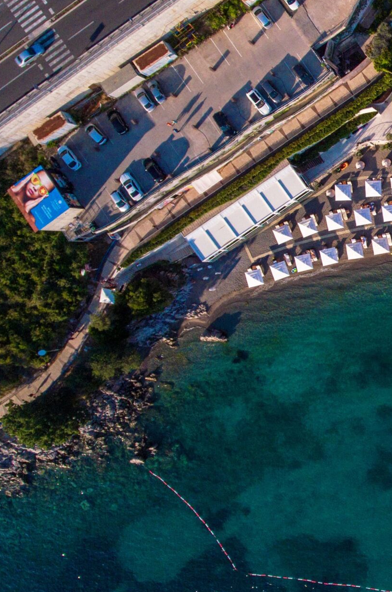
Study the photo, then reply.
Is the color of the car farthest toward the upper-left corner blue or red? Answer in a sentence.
In this view, the car farthest toward the upper-left corner is blue.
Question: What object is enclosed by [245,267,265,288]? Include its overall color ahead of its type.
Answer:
white umbrella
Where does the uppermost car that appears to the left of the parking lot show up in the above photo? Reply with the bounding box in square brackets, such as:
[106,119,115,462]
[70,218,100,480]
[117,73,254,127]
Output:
[14,42,43,66]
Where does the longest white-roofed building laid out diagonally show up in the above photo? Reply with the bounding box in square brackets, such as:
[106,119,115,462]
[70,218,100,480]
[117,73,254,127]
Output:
[183,165,318,269]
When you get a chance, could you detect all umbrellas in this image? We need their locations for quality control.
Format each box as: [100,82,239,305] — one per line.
[102,289,115,303]
[363,177,384,197]
[245,267,265,288]
[345,240,366,260]
[325,211,347,232]
[370,235,391,255]
[269,259,292,282]
[299,217,319,236]
[335,181,355,202]
[319,245,341,266]
[271,222,294,245]
[381,204,392,223]
[354,206,373,224]
[294,251,316,273]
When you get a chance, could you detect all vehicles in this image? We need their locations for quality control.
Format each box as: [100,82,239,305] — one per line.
[210,107,234,136]
[81,121,105,147]
[245,86,269,116]
[283,0,300,12]
[258,76,282,105]
[118,172,142,201]
[141,155,165,184]
[250,4,272,31]
[56,143,80,172]
[131,86,154,113]
[289,58,313,88]
[104,107,128,136]
[14,42,43,66]
[143,78,166,105]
